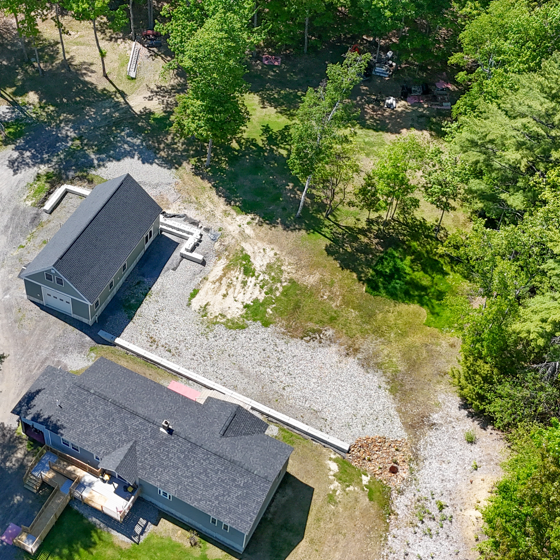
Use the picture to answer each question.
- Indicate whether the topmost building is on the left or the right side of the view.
left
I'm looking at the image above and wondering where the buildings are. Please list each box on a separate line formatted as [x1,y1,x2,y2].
[19,172,163,326]
[9,357,294,553]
